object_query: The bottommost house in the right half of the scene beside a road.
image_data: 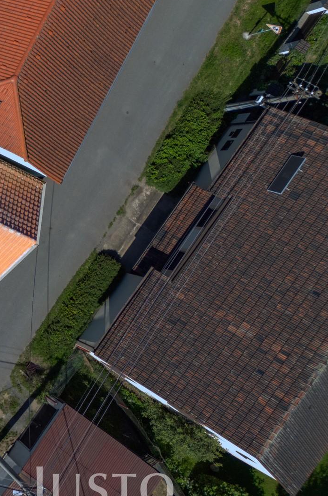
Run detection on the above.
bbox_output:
[74,107,328,494]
